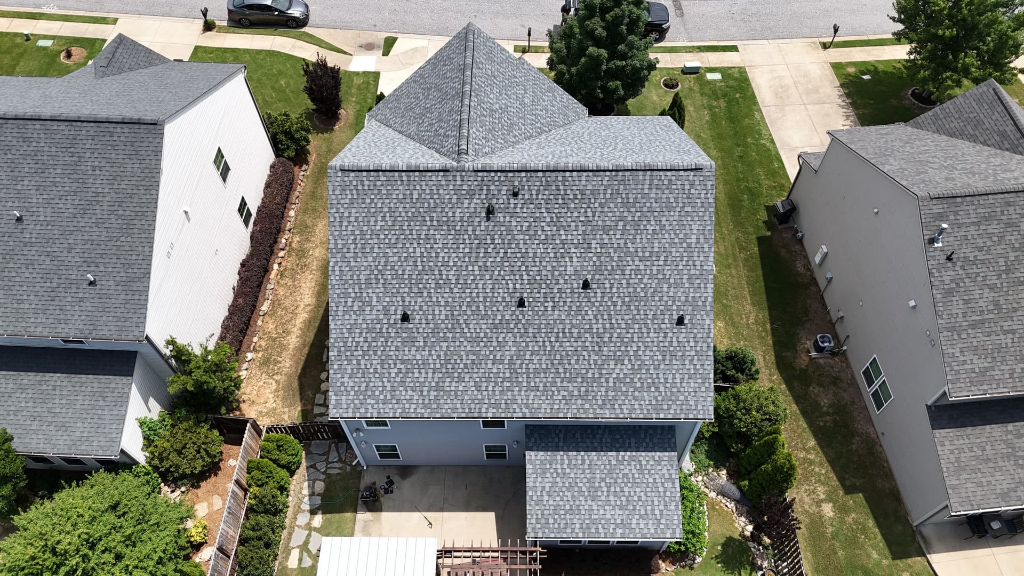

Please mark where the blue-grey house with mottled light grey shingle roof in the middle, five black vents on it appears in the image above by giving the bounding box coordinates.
[328,23,716,554]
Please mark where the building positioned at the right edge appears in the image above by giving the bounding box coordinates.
[781,79,1024,528]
